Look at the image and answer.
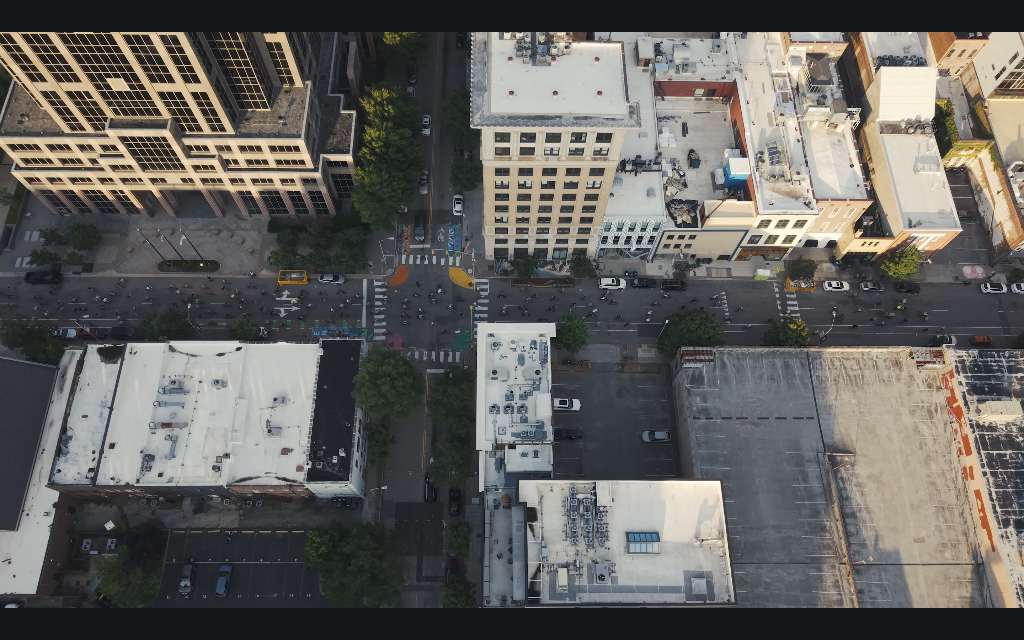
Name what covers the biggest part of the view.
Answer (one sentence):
For the most part, this view shows buildings.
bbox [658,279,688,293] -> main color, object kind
black car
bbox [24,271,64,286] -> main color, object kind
black vehicle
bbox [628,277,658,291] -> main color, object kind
black car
